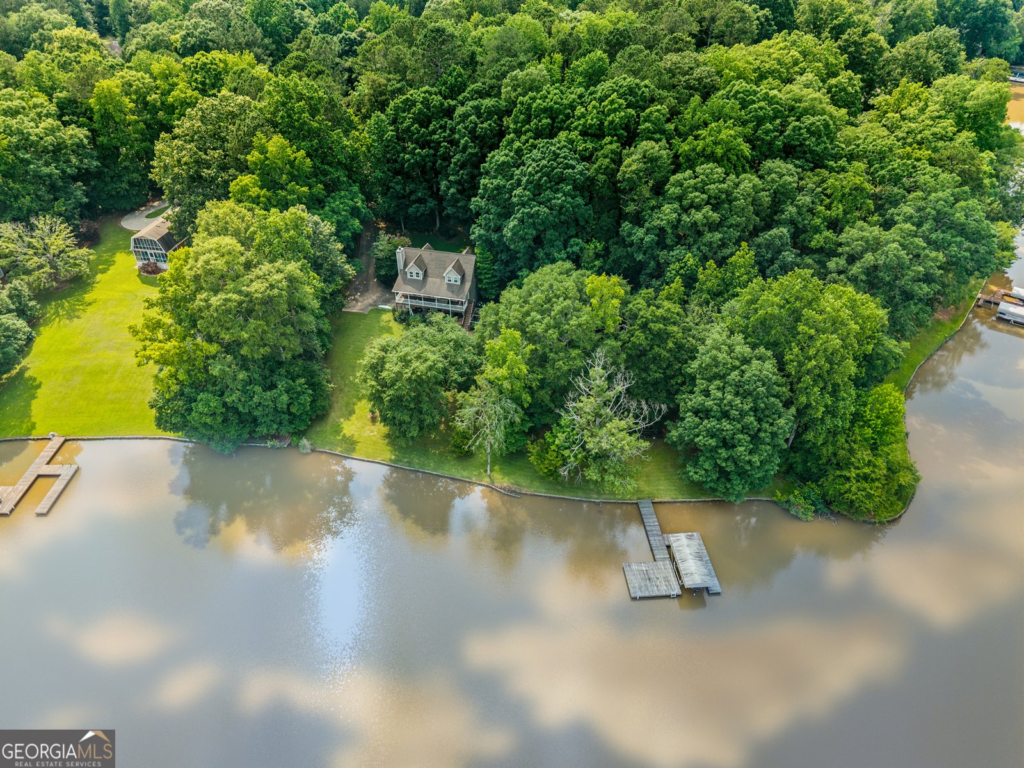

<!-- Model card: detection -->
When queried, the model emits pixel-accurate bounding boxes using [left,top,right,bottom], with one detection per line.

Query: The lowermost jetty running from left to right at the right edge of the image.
[977,289,1024,312]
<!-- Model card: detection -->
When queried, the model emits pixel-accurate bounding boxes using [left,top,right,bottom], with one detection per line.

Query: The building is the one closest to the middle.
[391,241,481,336]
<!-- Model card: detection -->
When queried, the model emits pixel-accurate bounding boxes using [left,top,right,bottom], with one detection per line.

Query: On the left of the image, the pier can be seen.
[0,437,79,516]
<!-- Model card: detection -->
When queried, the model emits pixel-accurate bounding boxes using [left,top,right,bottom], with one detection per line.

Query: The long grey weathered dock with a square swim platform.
[623,498,721,600]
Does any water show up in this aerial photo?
Yes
